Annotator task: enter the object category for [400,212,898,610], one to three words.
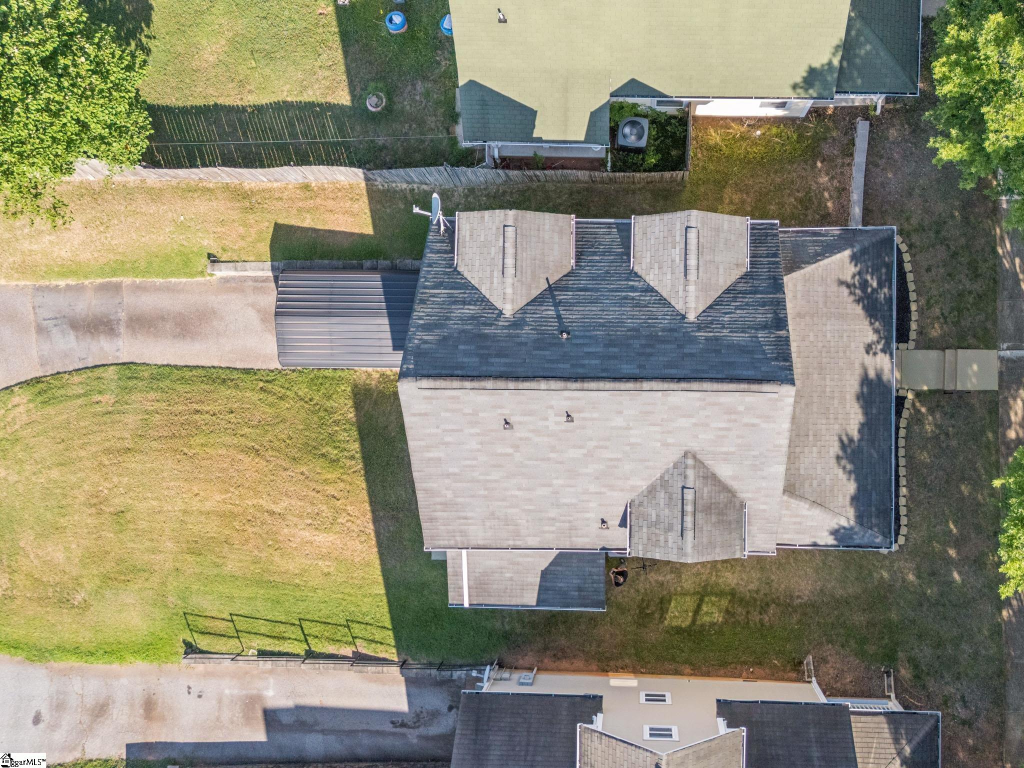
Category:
house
